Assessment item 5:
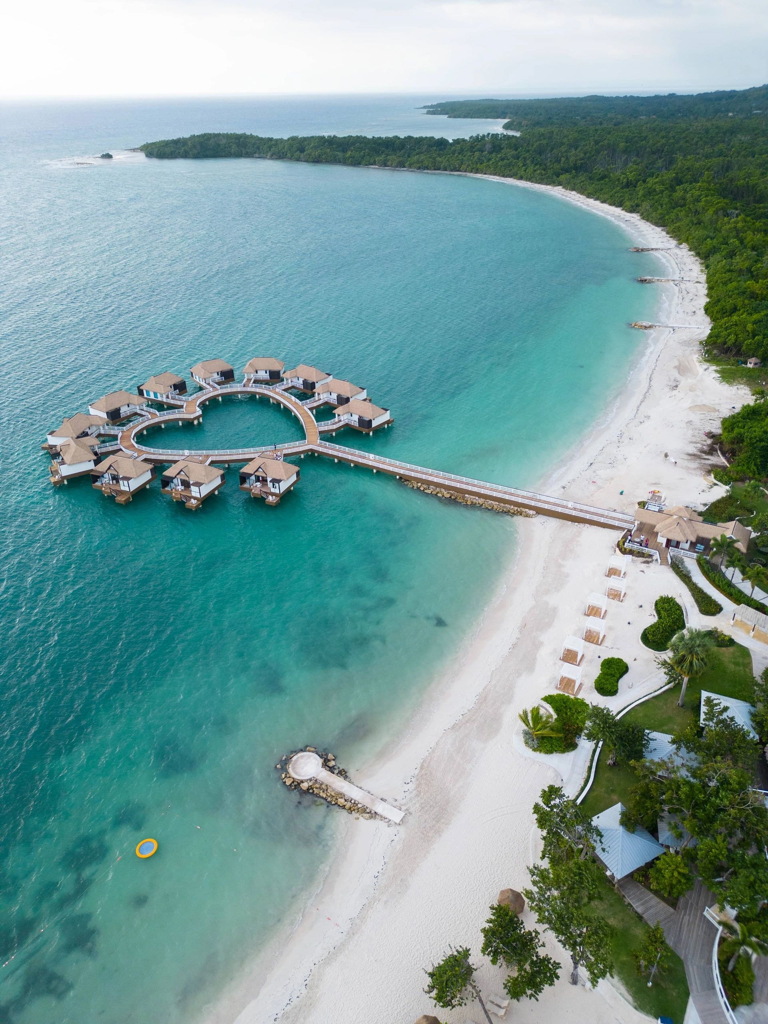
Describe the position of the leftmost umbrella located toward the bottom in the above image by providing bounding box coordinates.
[412,1004,442,1024]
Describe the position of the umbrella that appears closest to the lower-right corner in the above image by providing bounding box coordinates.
[499,883,525,909]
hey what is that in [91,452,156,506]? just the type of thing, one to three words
house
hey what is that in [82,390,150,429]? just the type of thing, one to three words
house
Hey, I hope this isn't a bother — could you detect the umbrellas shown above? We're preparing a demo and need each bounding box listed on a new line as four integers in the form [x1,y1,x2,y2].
[412,1004,442,1024]
[499,883,525,909]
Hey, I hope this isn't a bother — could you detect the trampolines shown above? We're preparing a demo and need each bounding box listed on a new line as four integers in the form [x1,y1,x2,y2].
[135,838,158,859]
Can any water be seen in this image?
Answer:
Yes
